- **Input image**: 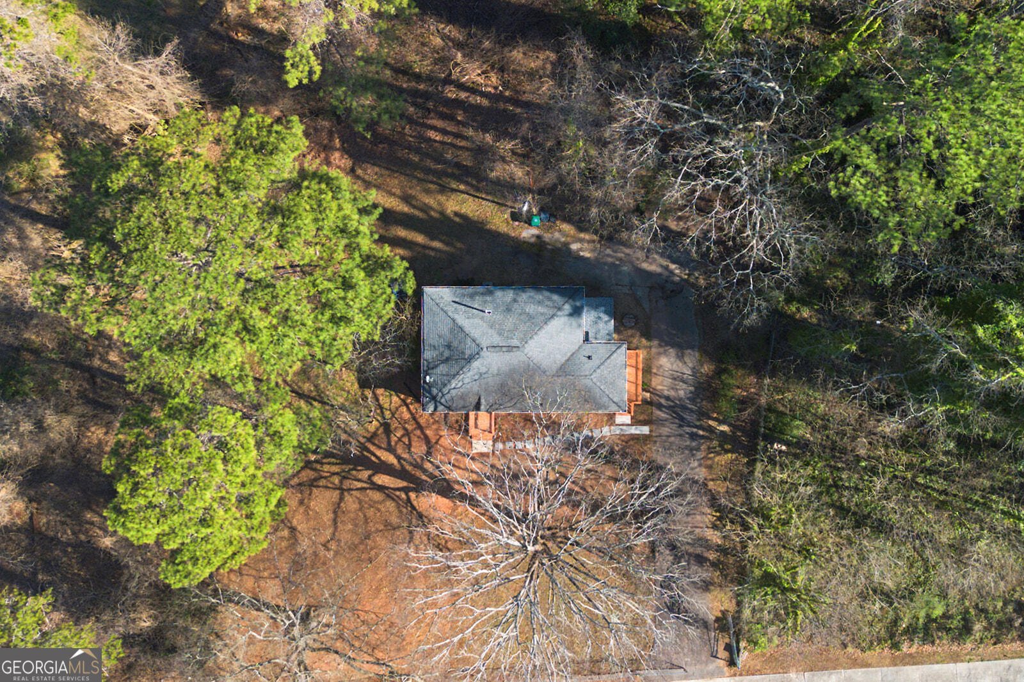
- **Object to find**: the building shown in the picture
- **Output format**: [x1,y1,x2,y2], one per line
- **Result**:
[421,285,642,442]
